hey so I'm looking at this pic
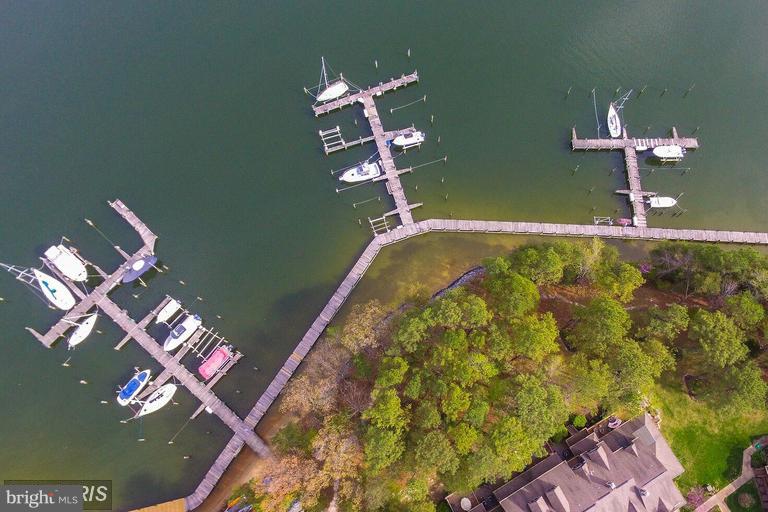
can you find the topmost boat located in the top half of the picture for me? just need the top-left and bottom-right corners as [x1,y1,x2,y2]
[316,58,349,102]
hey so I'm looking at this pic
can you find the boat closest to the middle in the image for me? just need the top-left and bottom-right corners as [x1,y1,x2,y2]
[336,164,385,181]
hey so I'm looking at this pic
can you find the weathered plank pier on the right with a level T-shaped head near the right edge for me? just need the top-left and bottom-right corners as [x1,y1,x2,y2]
[571,125,701,229]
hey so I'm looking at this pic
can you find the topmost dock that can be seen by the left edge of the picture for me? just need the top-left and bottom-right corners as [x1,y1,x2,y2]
[25,199,272,462]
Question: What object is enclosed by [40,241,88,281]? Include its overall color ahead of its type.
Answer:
white boat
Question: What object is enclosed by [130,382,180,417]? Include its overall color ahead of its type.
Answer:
white boat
